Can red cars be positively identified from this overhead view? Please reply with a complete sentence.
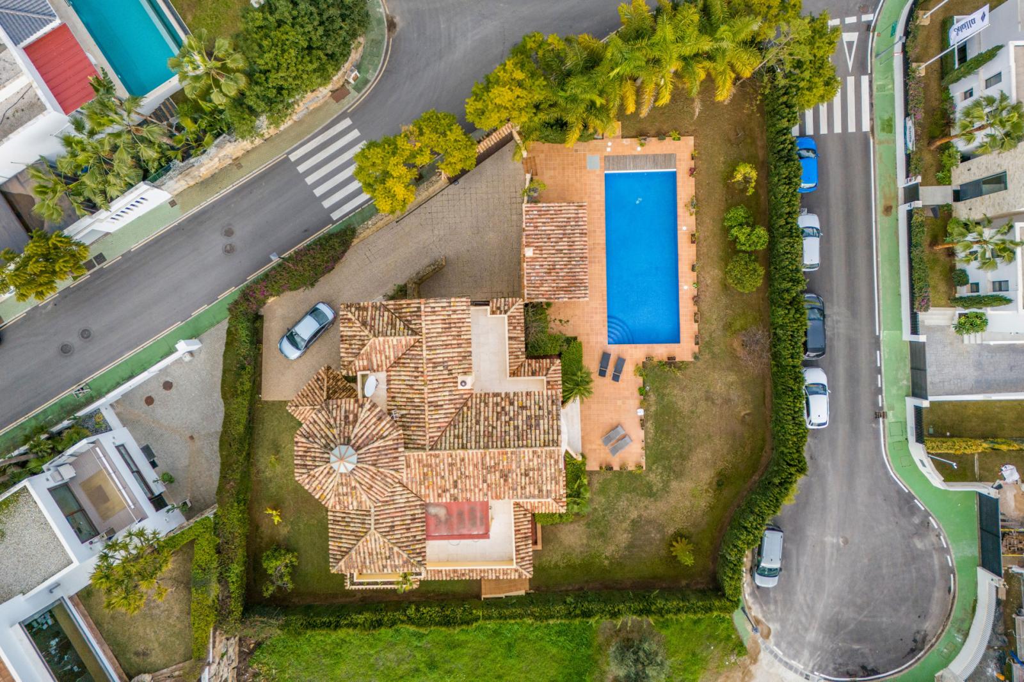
No, no red car can be seen from above.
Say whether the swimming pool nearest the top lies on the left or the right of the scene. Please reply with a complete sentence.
The swimming pool nearest the top is on the left side of the image.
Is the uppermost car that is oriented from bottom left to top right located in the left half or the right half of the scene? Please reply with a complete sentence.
You can find the uppermost car that is oriented from bottom left to top right on the left side of the picture.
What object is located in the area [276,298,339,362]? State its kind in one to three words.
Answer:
car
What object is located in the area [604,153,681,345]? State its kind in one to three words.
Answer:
swimming pool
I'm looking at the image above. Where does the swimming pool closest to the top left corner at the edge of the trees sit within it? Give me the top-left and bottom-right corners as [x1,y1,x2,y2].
[54,0,193,109]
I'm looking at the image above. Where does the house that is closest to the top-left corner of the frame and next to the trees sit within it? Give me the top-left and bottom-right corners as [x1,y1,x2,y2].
[0,0,111,237]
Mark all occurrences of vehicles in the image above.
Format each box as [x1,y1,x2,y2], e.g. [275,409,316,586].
[751,526,790,589]
[276,298,339,362]
[797,214,825,272]
[799,366,834,431]
[797,293,831,361]
[795,137,823,194]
